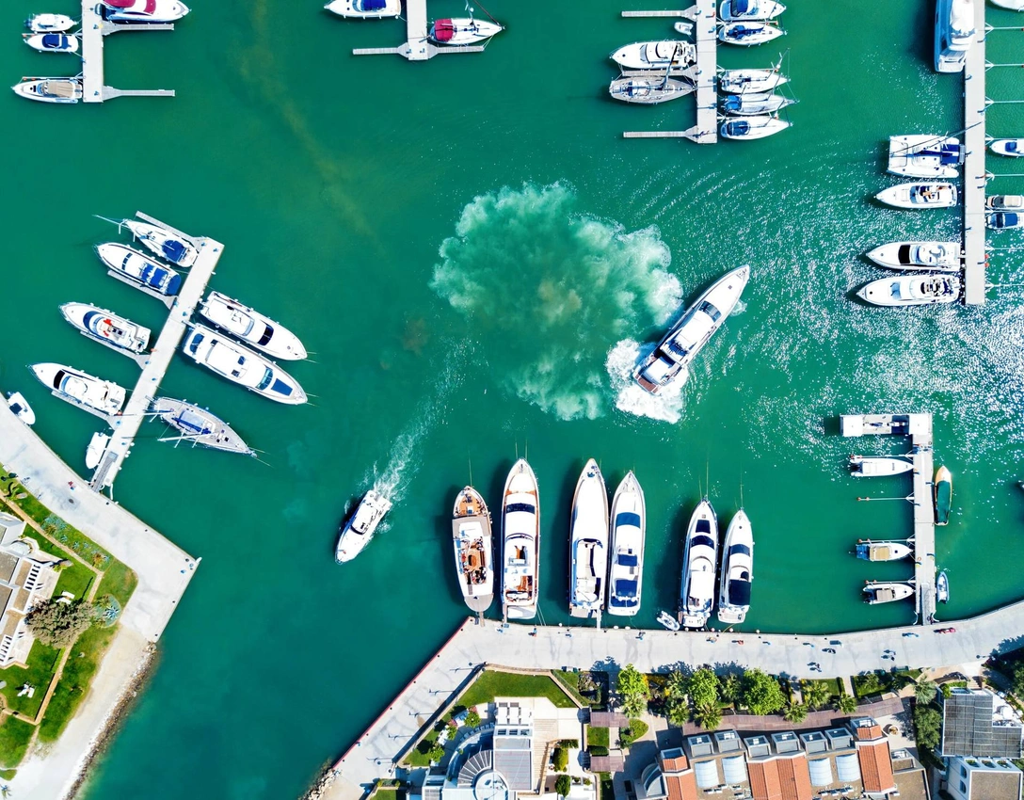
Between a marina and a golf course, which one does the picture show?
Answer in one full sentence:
The picture captures a marina.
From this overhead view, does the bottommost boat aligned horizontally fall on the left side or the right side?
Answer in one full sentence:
The bottommost boat aligned horizontally appears in the right half of the scene.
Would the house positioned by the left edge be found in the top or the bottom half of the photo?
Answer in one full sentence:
Seen from above, the house positioned by the left edge lies in the bottom half of the view.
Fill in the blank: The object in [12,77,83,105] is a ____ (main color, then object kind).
white boat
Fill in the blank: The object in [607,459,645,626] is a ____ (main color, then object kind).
white boat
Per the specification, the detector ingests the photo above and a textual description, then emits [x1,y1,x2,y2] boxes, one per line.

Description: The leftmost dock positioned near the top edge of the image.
[24,0,176,106]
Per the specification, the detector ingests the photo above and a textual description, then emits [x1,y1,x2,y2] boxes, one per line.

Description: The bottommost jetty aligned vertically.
[852,414,939,628]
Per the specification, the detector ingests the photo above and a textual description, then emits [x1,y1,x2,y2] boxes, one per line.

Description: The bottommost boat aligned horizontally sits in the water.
[860,582,914,602]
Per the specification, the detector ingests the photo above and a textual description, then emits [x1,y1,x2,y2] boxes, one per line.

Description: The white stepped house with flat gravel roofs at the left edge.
[0,503,73,669]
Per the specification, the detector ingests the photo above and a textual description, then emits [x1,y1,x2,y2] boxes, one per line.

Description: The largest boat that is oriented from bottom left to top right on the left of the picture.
[338,491,391,562]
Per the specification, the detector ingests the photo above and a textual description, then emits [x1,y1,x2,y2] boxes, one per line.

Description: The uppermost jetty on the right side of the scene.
[621,0,734,146]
